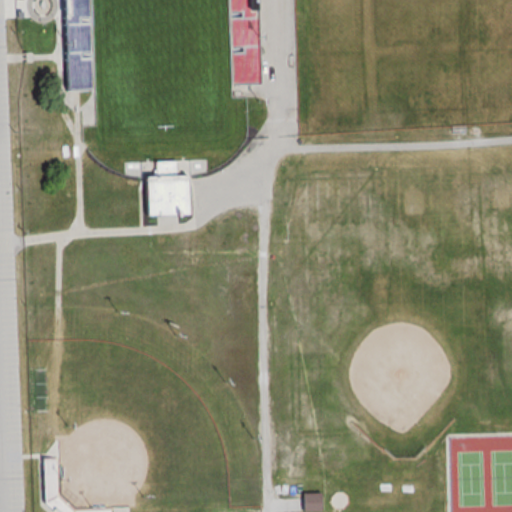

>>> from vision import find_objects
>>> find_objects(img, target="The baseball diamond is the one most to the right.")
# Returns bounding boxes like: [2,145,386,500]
[350,322,455,460]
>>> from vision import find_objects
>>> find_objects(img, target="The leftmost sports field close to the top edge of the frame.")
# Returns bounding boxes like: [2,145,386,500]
[86,0,246,172]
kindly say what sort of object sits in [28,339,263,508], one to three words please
baseball field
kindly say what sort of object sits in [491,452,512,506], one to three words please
tennis court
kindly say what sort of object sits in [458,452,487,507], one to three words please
tennis court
